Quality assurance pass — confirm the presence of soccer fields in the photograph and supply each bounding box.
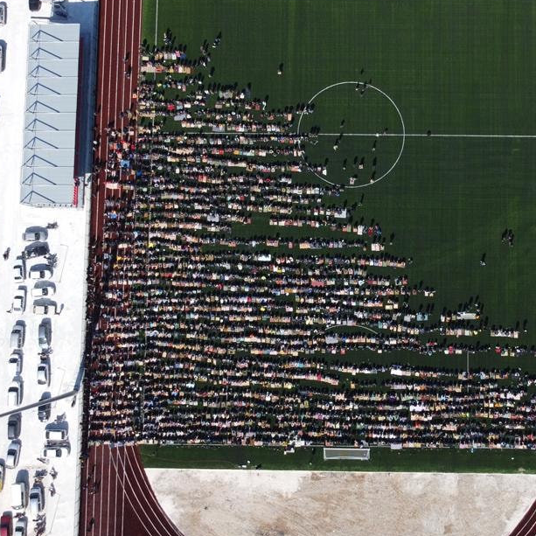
[130,0,536,477]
